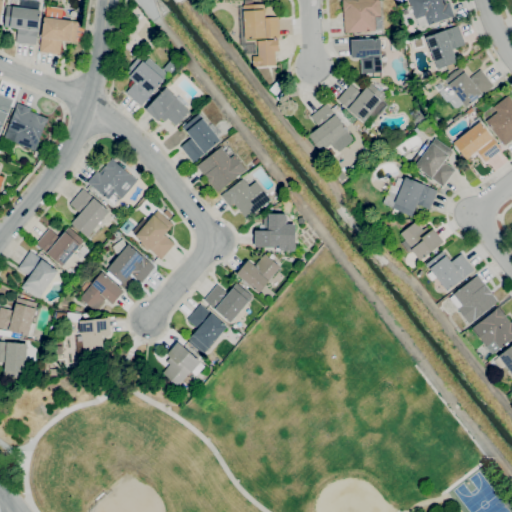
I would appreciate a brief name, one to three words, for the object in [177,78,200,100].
swimming pool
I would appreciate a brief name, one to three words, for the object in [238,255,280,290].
house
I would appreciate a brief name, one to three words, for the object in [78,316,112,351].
house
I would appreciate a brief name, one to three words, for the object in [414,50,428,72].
swimming pool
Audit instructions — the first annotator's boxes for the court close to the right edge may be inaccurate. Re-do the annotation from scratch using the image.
[450,470,510,512]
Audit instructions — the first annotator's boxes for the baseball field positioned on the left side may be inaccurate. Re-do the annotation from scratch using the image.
[29,395,262,512]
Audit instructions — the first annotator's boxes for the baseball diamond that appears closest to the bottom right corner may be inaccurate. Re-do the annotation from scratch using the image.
[182,250,483,512]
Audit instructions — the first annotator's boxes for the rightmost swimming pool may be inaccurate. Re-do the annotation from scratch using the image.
[447,118,470,136]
